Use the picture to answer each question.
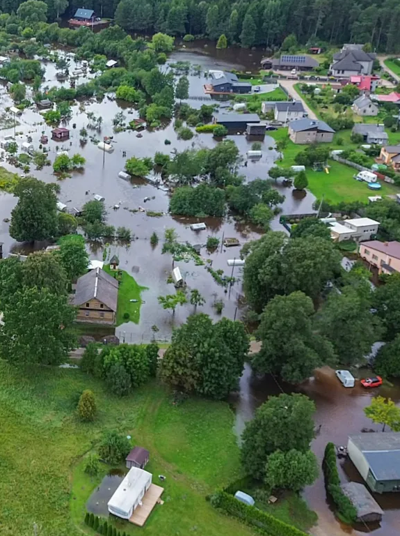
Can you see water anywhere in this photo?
Yes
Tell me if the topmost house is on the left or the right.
left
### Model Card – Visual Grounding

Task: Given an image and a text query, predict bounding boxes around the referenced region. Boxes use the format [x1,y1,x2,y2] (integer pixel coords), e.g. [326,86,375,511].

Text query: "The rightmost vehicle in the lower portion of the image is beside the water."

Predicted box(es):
[361,374,382,388]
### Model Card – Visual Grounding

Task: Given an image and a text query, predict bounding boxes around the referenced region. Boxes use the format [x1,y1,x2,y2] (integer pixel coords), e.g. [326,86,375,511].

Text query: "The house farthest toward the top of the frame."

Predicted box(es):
[75,7,110,36]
